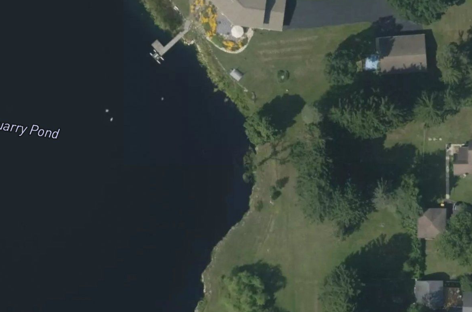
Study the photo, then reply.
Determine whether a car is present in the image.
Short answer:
No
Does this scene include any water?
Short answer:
Yes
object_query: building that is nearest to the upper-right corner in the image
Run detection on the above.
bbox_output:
[377,34,427,75]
